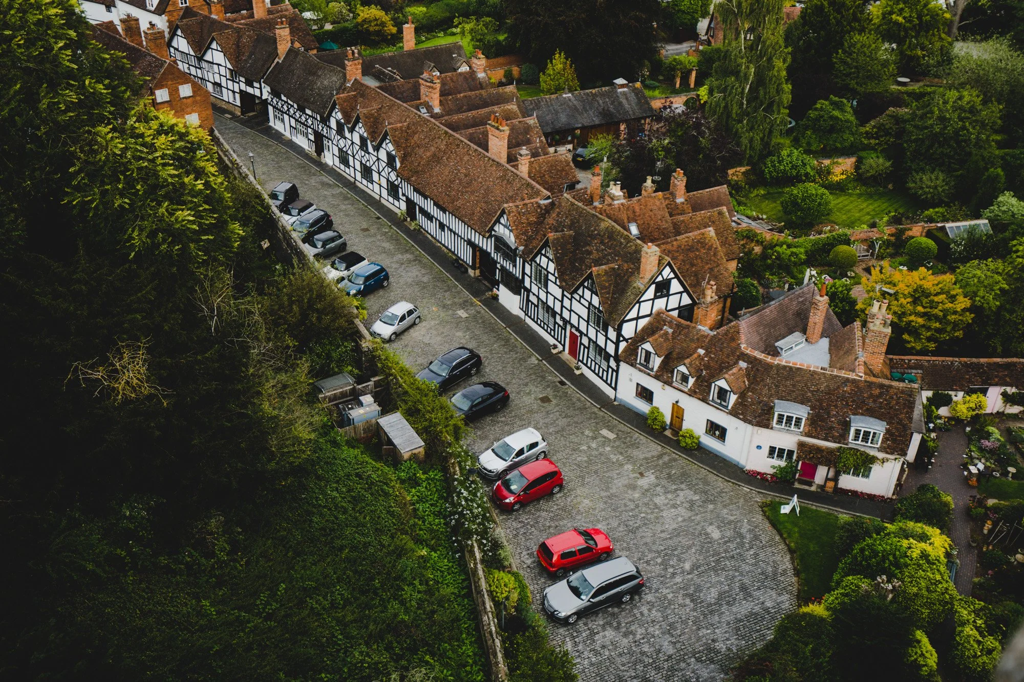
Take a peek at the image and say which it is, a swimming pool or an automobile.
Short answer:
automobile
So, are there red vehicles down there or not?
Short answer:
Yes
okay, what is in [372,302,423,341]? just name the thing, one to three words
car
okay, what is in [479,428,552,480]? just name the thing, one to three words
car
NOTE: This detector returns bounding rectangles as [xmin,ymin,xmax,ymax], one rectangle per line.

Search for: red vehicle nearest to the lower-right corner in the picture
[535,526,612,577]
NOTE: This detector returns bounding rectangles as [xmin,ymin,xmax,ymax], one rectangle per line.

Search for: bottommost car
[541,556,644,624]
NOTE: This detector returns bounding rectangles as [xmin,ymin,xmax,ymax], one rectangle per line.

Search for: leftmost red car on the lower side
[494,459,567,511]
